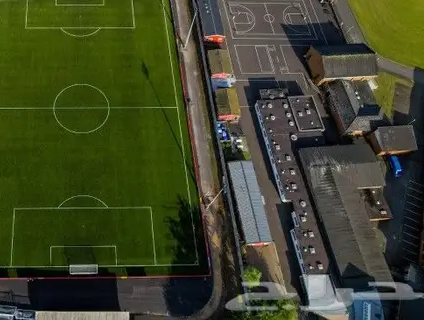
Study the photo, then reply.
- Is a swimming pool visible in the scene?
No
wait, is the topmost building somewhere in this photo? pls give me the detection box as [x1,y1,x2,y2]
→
[196,0,224,40]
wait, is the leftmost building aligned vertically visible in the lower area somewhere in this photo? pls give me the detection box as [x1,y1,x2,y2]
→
[227,161,274,245]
